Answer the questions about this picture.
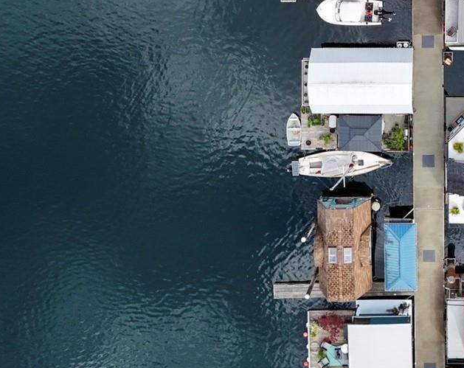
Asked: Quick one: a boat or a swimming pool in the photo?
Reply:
boat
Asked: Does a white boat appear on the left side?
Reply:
No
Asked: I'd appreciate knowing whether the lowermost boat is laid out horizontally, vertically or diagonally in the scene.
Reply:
horizontally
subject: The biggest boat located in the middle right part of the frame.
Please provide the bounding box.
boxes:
[287,151,397,196]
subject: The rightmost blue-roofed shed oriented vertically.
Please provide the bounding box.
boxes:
[383,210,418,293]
